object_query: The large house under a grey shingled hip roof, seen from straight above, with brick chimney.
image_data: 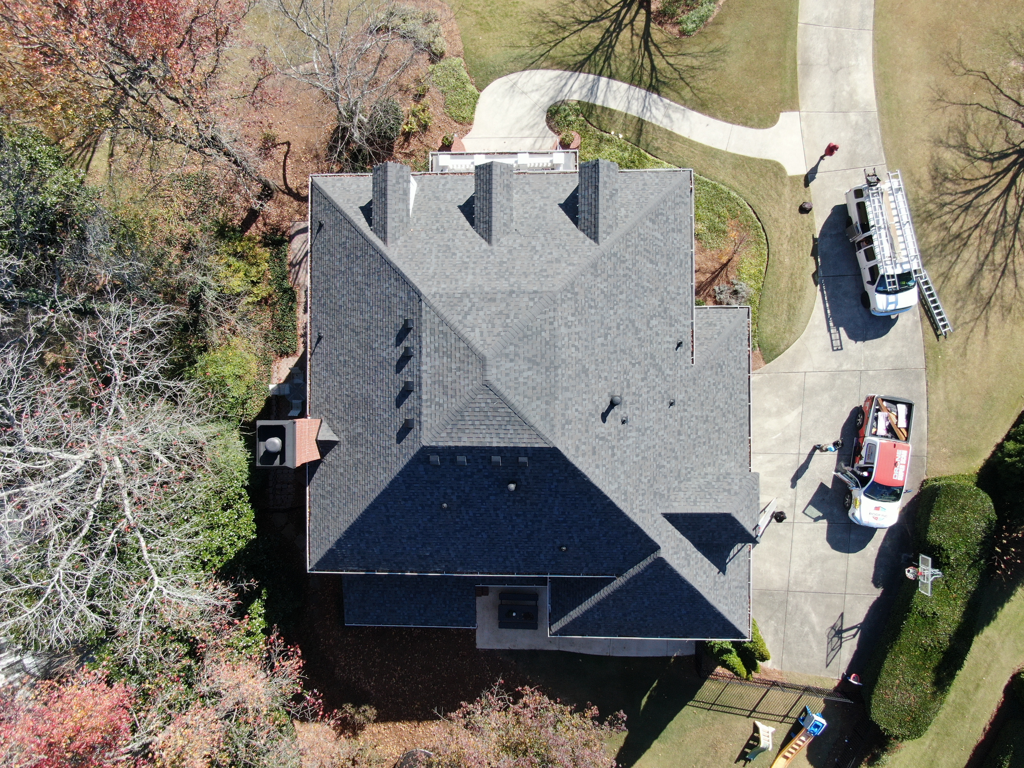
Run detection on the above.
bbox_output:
[259,151,760,640]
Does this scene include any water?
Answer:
No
